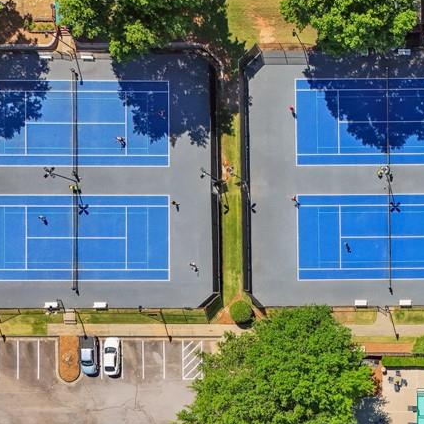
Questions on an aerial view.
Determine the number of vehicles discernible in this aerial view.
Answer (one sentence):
The photo contains 2 vehicles.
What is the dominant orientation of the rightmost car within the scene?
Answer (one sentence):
In this picture, the rightmost car is oriented vertically.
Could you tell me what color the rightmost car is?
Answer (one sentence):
From above, the rightmost car appears white.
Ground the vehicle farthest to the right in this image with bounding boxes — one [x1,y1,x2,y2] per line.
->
[102,337,122,376]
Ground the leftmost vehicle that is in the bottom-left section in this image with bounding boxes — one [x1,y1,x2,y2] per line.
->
[77,335,99,376]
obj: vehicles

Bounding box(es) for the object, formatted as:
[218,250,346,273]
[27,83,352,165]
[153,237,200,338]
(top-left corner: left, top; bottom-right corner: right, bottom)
[102,337,122,376]
[77,335,99,376]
